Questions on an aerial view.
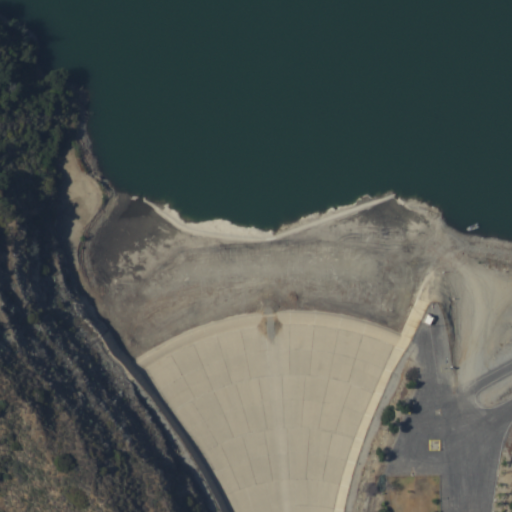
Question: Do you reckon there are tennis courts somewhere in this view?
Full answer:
No, the picture doesn't show any tennis court.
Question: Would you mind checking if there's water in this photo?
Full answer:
Yes, there is water in the image.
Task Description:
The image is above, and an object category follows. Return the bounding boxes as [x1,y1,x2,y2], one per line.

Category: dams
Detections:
[60,282,430,512]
